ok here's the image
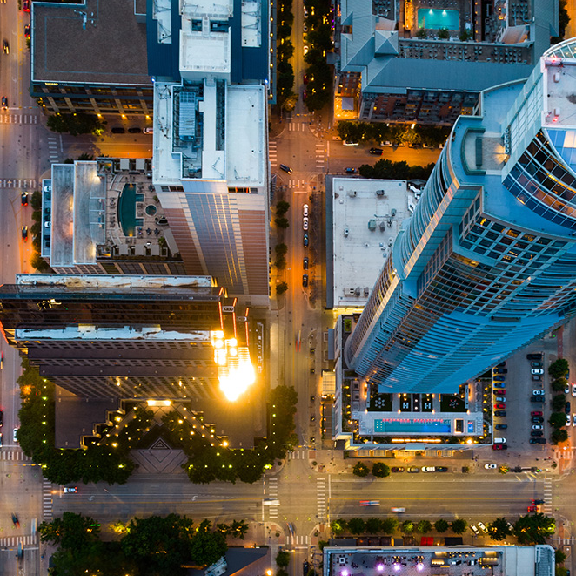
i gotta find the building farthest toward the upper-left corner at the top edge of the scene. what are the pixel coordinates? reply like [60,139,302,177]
[30,0,152,119]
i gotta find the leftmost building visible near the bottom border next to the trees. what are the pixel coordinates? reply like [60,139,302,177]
[189,548,269,576]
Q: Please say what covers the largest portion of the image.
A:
buildings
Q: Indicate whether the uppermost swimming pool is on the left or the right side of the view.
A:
right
